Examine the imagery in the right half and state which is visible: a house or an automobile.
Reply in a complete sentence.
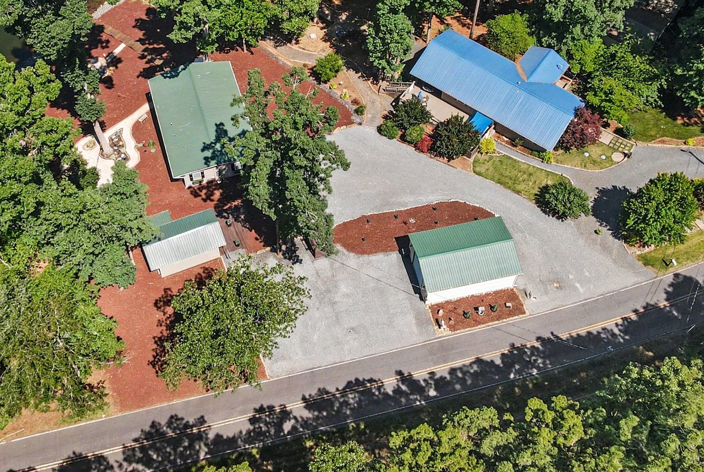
The feature located in the right half is a house.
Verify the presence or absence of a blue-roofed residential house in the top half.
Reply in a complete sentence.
Yes, the scene does show a blue-roofed residential house in the top half.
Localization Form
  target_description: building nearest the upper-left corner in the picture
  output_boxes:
[148,56,259,188]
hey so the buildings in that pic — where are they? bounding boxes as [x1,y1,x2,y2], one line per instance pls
[410,29,585,156]
[142,209,227,278]
[410,217,523,302]
[148,56,259,188]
